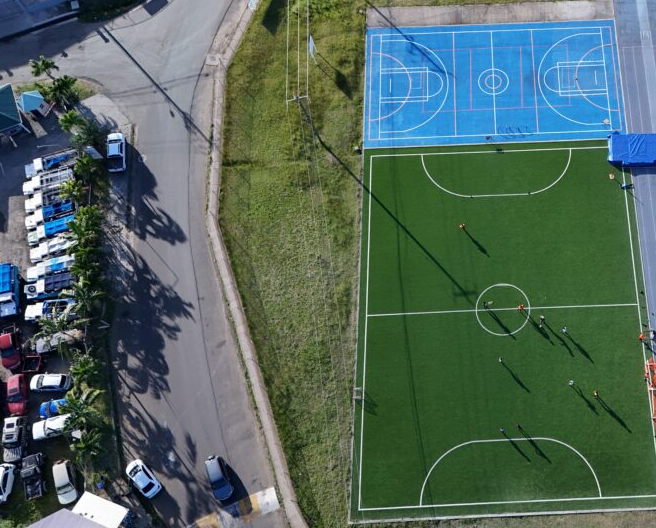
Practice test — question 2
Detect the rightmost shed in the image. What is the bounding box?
[75,491,137,528]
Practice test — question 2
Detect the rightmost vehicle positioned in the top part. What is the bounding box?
[105,132,129,175]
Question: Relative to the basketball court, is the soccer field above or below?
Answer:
below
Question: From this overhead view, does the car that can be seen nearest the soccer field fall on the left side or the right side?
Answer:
left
